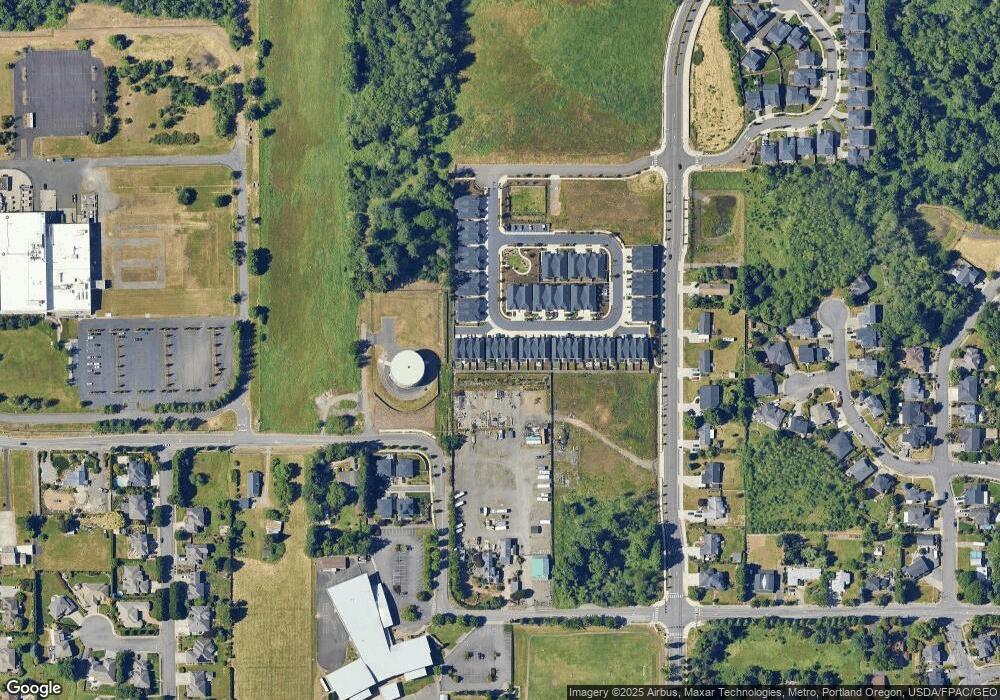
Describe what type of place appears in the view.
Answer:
residential area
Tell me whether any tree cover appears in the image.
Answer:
Yes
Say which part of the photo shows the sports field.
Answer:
bottom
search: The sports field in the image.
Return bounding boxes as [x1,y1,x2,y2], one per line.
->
[516,625,662,700]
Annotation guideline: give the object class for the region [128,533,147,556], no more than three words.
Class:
house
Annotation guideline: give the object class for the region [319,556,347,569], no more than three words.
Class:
shed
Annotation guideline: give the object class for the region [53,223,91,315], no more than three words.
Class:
building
